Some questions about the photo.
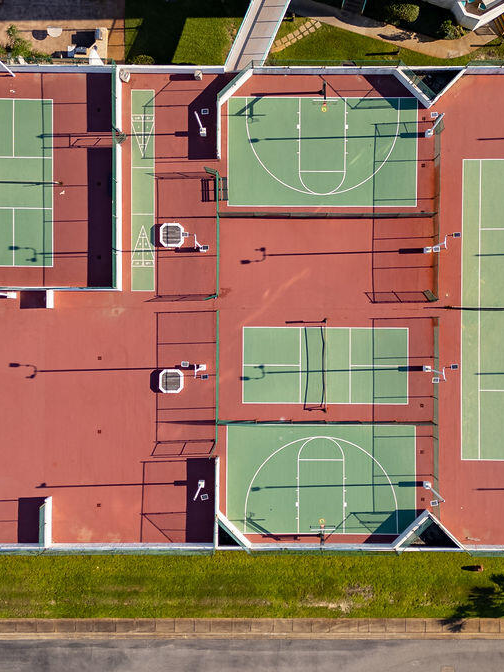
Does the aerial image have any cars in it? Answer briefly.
No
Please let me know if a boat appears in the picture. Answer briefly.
No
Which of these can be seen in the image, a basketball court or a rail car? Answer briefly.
basketball court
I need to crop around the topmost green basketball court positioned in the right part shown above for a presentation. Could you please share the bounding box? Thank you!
[227,96,418,207]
